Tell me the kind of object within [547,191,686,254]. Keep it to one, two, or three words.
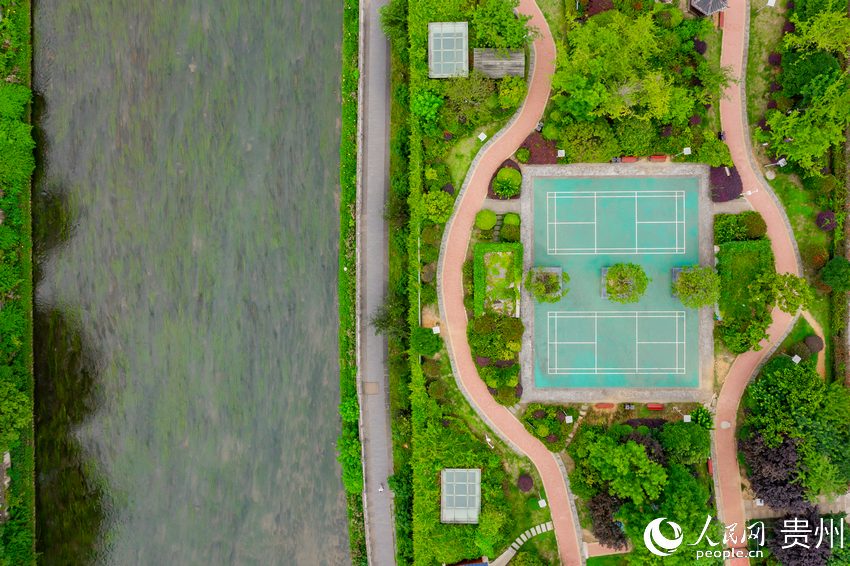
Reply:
sports court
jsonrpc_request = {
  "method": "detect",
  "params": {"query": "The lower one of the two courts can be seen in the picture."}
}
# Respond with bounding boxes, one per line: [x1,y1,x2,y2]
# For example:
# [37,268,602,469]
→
[548,311,686,373]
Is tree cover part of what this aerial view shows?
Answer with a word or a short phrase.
Yes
